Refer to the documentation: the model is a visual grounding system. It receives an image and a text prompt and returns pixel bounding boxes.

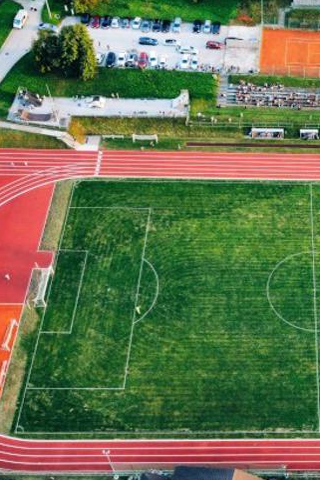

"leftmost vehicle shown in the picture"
[11,6,25,28]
